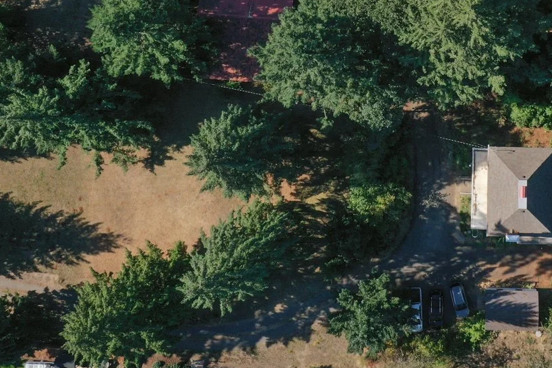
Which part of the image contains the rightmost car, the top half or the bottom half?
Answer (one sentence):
It is in the bottom half that the rightmost car appears.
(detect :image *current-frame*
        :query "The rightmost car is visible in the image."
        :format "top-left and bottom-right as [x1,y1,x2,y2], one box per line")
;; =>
[448,280,472,318]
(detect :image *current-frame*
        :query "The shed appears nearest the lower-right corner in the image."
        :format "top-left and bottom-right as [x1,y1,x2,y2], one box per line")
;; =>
[484,282,538,331]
